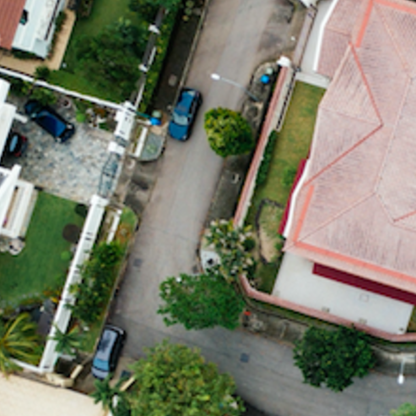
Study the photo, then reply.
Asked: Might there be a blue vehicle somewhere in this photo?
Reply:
Yes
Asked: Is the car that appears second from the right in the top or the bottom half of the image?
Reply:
bottom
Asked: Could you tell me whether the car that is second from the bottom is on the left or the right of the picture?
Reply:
left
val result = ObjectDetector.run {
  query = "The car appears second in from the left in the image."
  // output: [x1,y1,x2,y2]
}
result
[23,99,81,142]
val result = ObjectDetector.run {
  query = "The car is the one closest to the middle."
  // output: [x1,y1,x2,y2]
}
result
[167,86,202,142]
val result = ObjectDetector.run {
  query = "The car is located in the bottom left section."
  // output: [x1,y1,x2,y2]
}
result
[91,322,128,380]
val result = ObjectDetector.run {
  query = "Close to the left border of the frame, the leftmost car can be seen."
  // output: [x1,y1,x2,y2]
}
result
[4,130,31,157]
